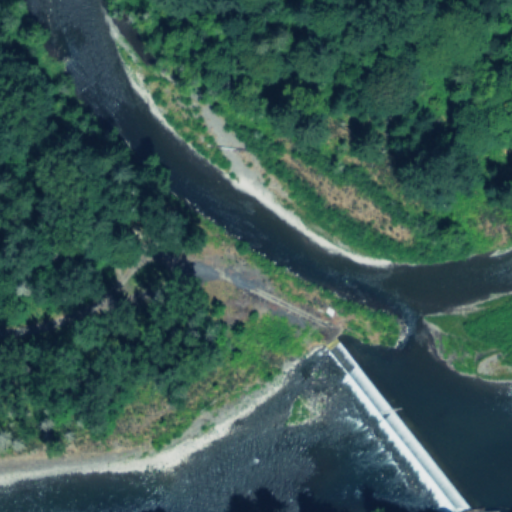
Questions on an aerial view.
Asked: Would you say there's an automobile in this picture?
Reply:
No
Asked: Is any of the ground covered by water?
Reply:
Yes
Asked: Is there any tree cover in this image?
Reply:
Yes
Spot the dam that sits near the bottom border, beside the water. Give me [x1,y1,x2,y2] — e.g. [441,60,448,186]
[326,338,501,512]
